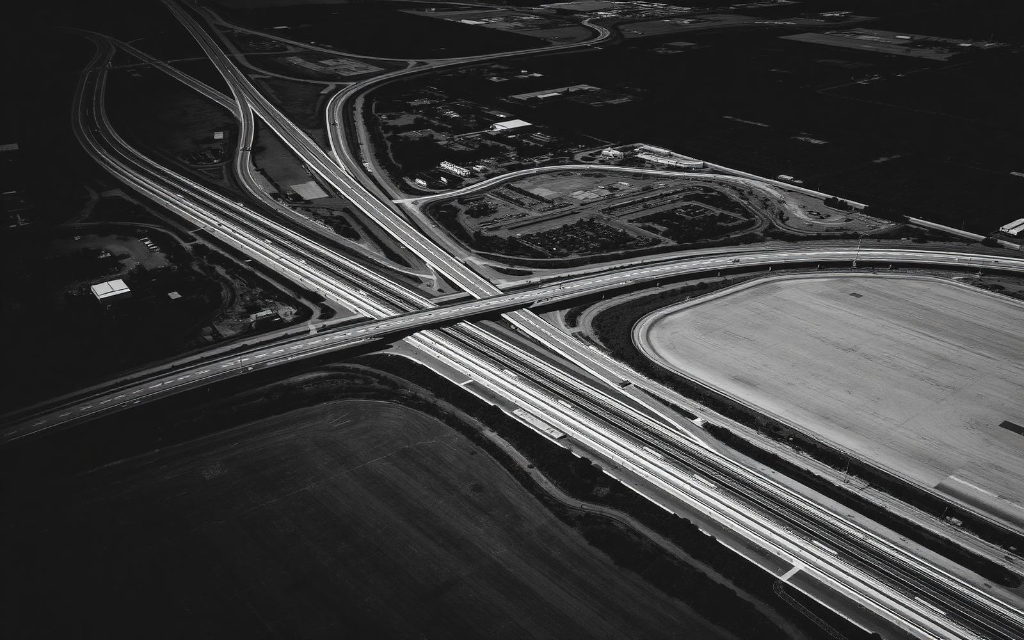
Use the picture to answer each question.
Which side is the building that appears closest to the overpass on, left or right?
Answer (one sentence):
The building that appears closest to the overpass appears in the right half of the scene.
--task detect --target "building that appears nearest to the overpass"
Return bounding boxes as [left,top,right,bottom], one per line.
[903,216,1020,252]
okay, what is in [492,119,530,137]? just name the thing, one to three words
building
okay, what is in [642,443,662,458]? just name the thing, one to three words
vehicle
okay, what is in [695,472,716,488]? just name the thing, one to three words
vehicle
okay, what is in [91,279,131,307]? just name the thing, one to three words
barn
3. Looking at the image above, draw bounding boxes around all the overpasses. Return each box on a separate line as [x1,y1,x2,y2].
[0,247,1024,460]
